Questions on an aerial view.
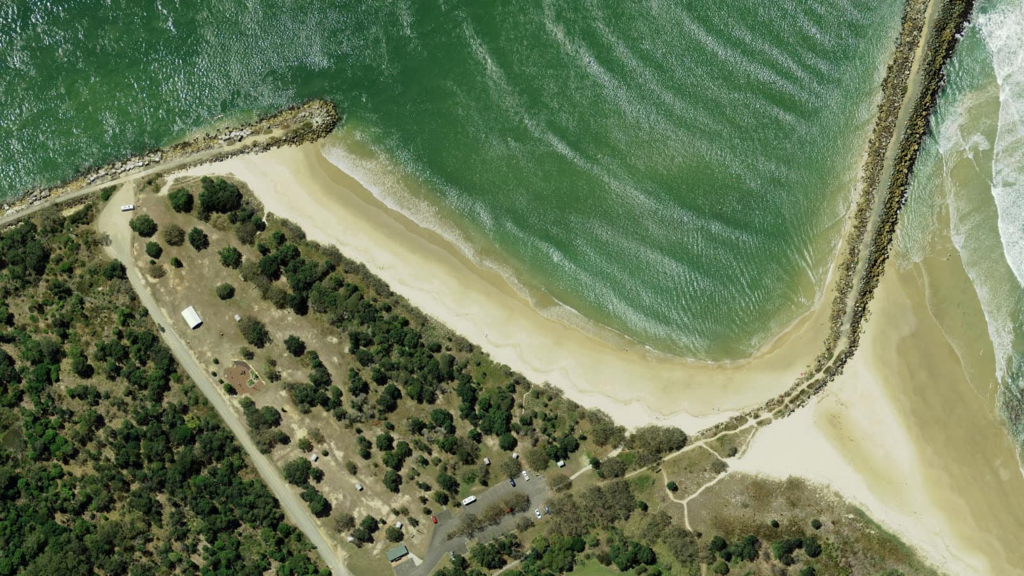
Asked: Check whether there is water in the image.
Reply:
Yes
